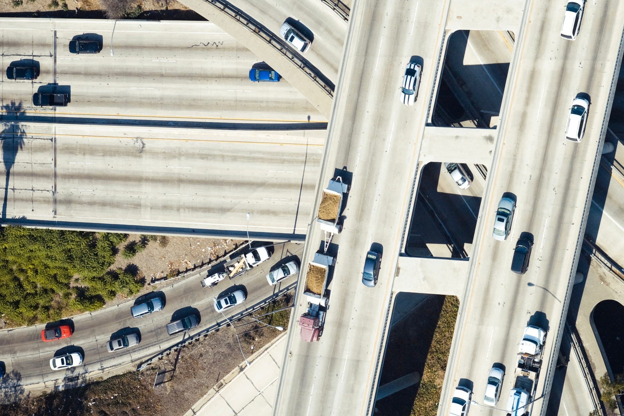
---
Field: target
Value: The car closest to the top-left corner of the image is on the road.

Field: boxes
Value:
[7,64,38,81]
